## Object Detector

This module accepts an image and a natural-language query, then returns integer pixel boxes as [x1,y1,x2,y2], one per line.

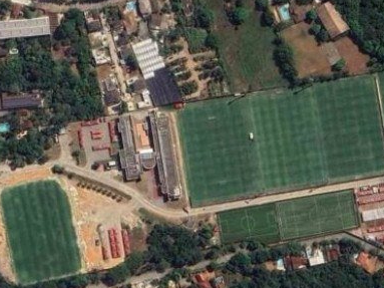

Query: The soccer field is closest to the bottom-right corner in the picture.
[278,191,359,238]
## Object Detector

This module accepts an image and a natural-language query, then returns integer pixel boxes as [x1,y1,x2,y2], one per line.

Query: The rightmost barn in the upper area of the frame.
[317,1,350,38]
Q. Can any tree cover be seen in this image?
Yes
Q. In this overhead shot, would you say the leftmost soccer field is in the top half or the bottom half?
bottom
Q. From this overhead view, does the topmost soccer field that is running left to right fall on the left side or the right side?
right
